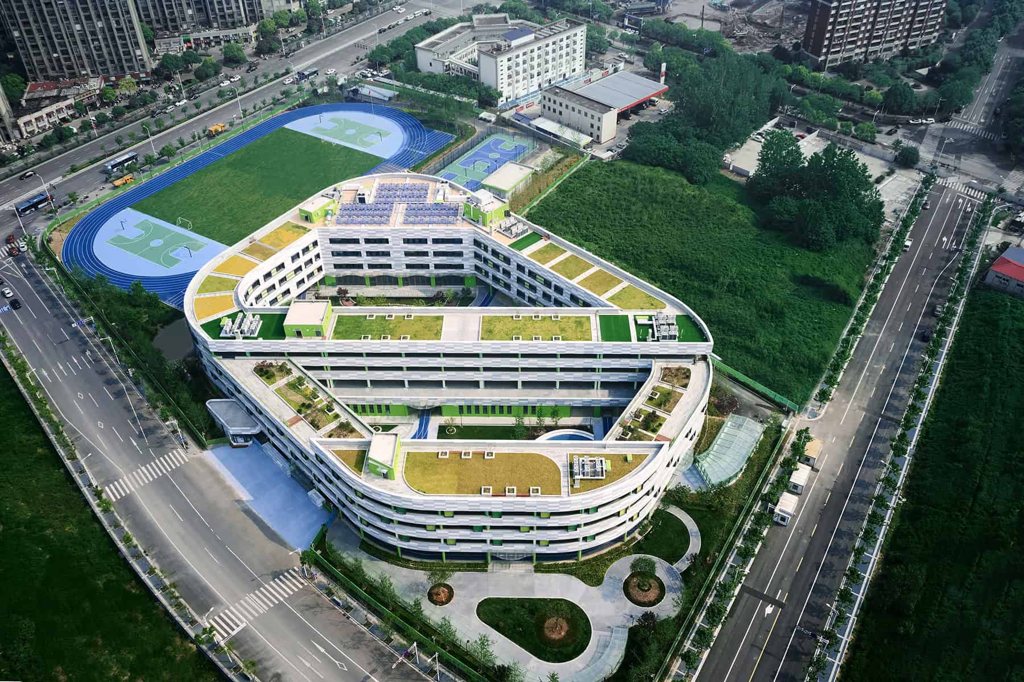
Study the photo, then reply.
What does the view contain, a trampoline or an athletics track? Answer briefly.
athletics track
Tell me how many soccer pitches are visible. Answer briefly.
1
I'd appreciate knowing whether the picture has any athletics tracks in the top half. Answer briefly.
Yes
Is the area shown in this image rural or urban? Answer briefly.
urban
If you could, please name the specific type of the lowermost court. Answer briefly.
basketball court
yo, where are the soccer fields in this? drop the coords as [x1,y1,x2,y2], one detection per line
[131,126,386,247]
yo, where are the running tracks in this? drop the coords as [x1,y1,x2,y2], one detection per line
[66,104,453,316]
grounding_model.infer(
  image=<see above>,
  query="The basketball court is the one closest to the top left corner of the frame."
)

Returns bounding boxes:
[106,219,208,269]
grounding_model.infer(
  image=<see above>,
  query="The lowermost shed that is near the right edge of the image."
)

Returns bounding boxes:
[984,255,1024,298]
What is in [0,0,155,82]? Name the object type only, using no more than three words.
building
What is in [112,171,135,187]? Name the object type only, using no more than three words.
vehicle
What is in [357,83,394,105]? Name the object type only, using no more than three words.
shed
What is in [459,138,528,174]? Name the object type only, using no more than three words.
basketball court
